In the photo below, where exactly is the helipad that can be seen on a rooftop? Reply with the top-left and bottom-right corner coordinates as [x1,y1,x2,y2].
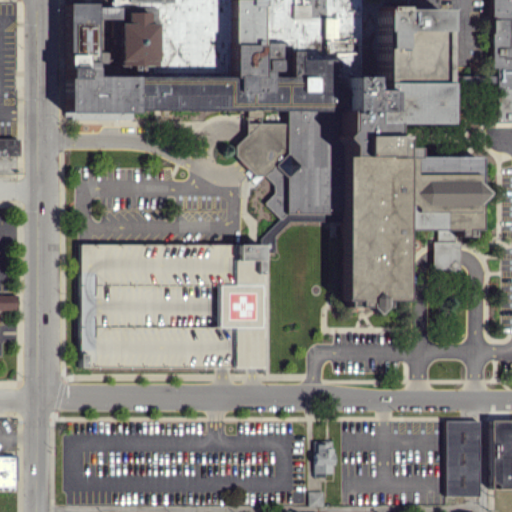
[218,284,266,330]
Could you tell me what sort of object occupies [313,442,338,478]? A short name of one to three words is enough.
house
